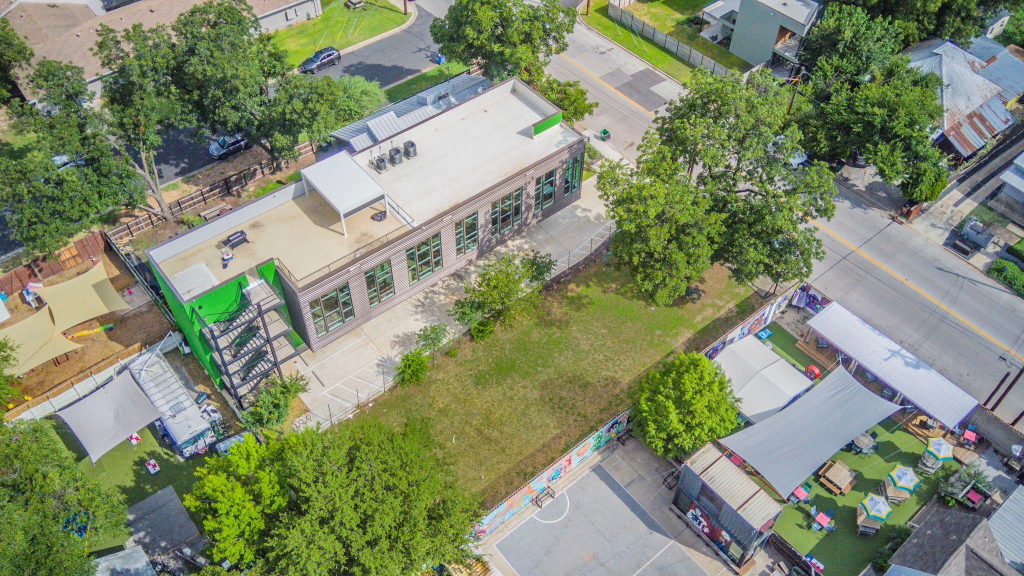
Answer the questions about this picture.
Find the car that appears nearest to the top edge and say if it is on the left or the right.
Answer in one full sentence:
The car that appears nearest to the top edge sits on the left side.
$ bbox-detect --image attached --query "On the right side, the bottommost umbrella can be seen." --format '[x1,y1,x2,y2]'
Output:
[860,493,892,523]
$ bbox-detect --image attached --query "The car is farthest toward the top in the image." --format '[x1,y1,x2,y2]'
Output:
[298,44,343,74]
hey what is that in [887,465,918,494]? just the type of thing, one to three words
umbrella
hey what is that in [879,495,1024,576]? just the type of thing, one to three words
house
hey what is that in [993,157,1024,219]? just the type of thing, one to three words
house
